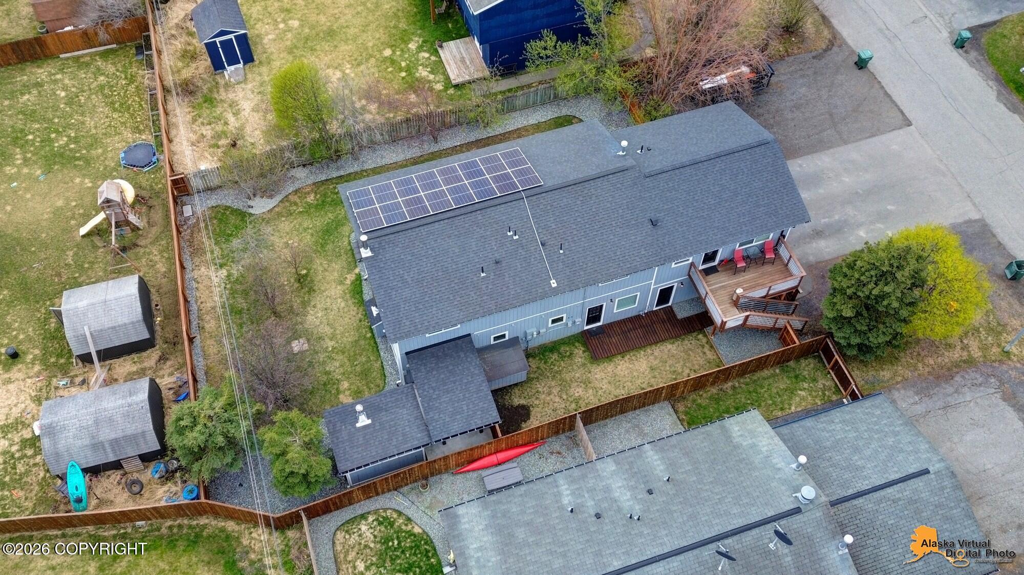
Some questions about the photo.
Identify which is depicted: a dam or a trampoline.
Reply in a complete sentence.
Visible in the photo is a trampoline.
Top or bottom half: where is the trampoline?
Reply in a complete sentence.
The trampoline is in the top half of the image.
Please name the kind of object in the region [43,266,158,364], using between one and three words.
shed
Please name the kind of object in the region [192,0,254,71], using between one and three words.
shed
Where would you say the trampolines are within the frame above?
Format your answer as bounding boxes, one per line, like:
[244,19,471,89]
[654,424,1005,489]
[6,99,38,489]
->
[119,139,160,176]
